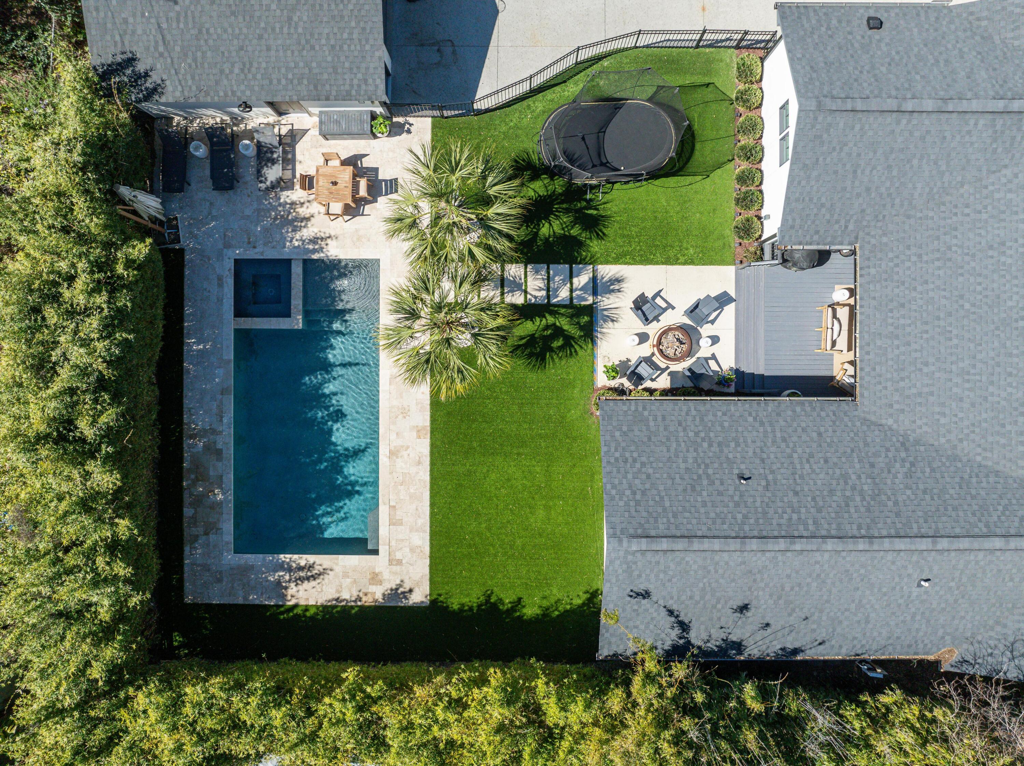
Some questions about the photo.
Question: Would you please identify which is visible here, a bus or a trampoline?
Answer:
trampoline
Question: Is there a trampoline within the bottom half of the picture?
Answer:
No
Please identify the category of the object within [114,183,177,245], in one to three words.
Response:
umbrella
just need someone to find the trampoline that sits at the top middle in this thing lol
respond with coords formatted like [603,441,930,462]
[533,67,693,195]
